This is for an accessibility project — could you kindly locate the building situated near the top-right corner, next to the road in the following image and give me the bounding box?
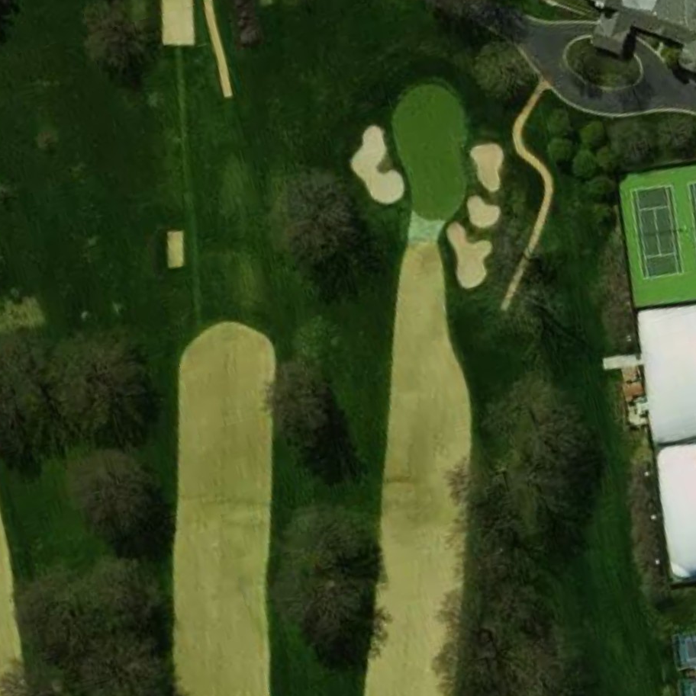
[577,0,696,76]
